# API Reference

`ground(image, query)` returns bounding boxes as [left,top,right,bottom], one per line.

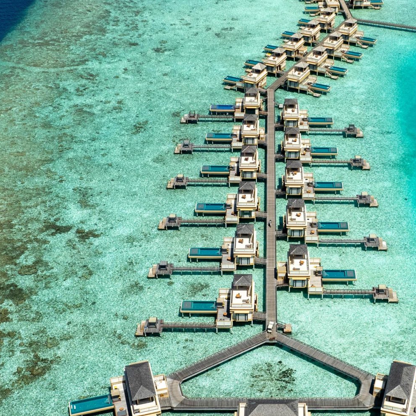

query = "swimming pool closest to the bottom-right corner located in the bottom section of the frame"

[322,269,357,282]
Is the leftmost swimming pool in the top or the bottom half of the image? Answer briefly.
bottom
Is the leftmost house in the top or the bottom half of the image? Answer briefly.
bottom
